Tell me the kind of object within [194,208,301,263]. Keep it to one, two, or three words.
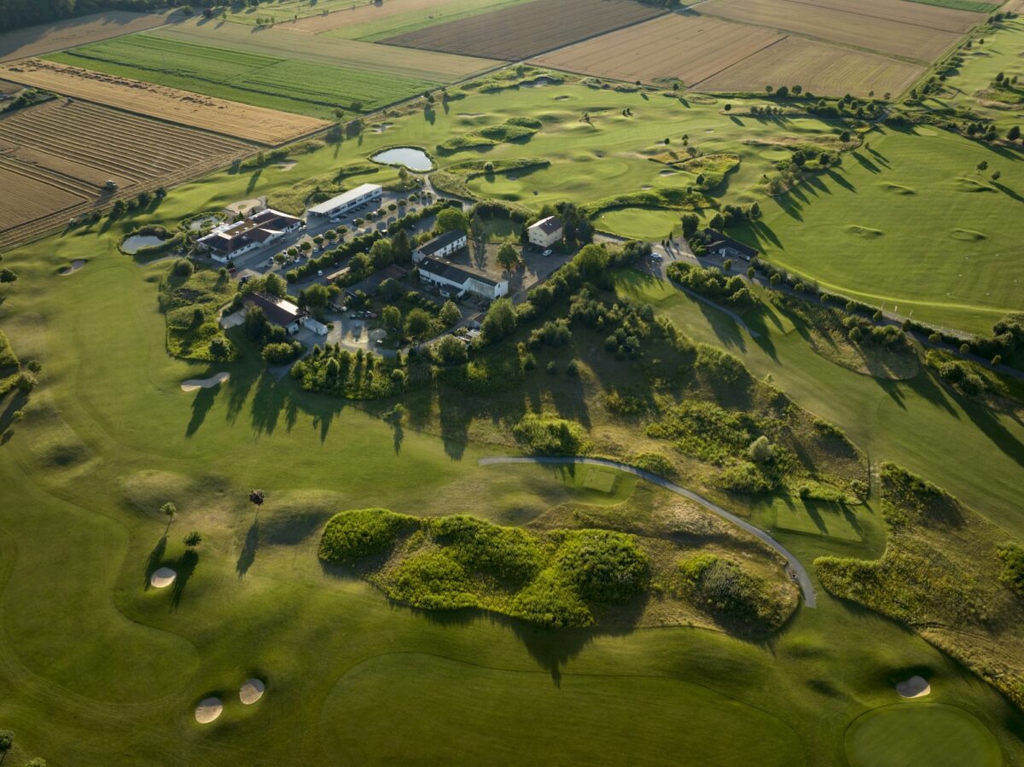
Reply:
building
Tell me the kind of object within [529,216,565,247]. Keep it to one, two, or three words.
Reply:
house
